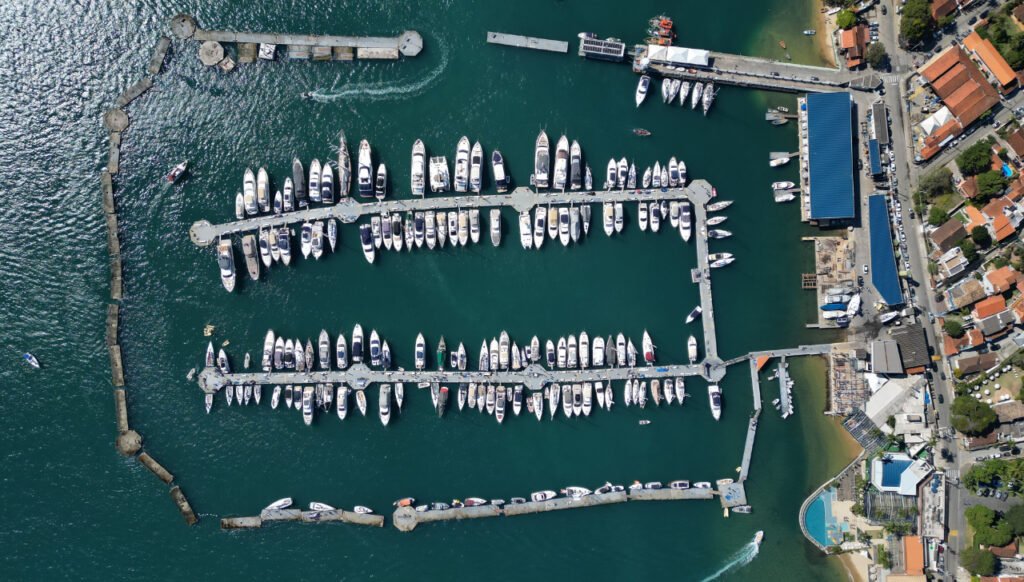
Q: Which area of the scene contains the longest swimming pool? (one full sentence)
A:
The longest swimming pool sits in the bottom right section of the image.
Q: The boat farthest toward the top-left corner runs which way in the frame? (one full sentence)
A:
The boat farthest toward the top-left corner has been laid out diagonally relative to the frame.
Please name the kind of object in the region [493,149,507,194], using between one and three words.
boat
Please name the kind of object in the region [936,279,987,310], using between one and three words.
house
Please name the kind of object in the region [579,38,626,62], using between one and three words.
ship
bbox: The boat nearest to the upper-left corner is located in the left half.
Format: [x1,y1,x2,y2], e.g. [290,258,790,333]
[167,160,188,183]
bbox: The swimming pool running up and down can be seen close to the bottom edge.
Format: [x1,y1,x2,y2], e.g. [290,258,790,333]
[797,449,866,554]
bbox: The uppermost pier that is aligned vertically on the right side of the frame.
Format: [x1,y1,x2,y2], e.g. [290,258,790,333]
[690,205,718,357]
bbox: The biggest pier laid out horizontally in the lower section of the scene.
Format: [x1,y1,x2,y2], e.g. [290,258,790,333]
[199,356,726,393]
